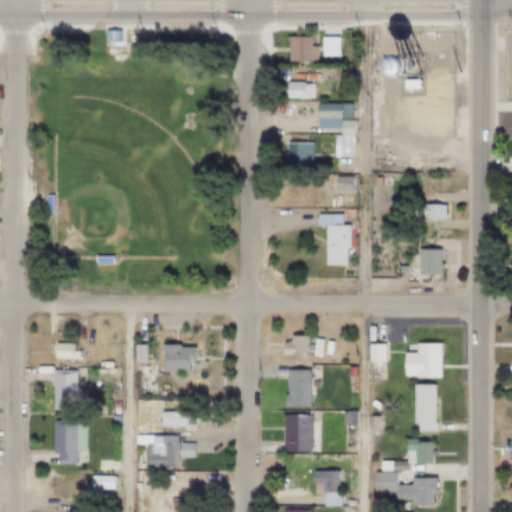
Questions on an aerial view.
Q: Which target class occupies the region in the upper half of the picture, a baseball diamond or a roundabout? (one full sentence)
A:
You can see a baseball diamond in the upper half of the picture.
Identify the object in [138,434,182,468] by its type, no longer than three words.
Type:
house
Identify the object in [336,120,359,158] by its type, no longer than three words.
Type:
building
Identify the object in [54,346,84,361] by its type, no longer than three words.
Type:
house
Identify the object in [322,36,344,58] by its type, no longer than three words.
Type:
building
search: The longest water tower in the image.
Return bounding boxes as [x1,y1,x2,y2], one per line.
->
[380,53,424,76]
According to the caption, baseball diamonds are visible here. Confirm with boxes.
[58,92,218,257]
